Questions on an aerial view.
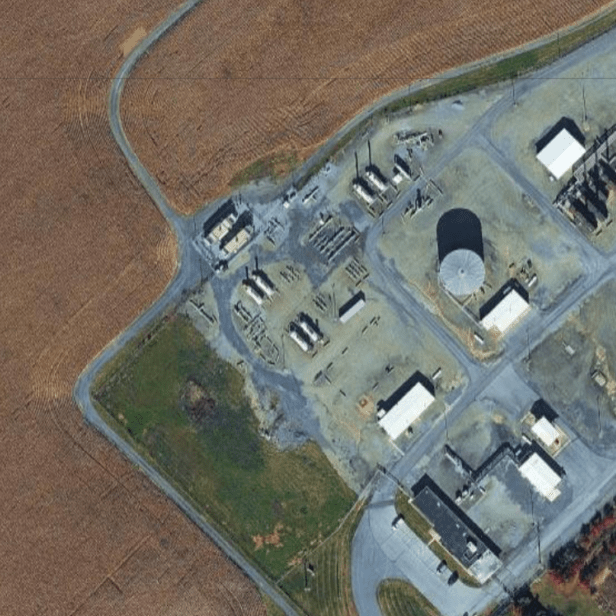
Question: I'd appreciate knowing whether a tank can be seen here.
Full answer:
Yes, looking at the shot, I can spot a tank.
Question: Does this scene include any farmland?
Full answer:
Yes, farmland can be seen from above here.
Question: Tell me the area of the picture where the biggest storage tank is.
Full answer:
The biggest storage tank appears toward the right of the photo.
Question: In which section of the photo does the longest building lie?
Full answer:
Look in the bottom right portion of the view to spot the longest building.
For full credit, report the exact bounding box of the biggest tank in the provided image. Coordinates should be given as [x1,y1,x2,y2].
[437,247,487,297]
